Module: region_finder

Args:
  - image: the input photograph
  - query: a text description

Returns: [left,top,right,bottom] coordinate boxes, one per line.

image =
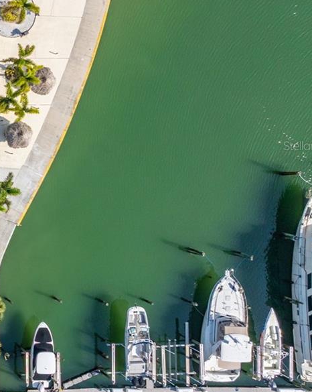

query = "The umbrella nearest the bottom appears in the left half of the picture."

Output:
[4,122,30,149]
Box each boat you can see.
[32,324,57,392]
[283,192,312,388]
[128,308,155,387]
[195,276,245,388]
[260,311,283,389]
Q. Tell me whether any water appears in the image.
Yes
